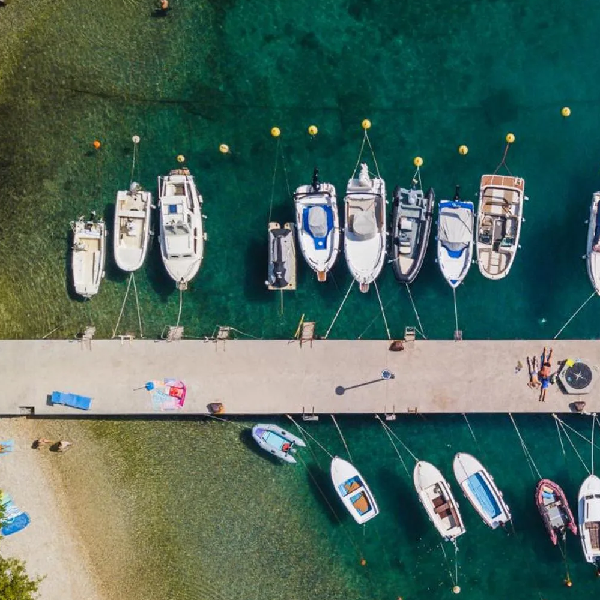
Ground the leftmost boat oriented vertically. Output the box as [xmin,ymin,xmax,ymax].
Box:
[70,210,108,298]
